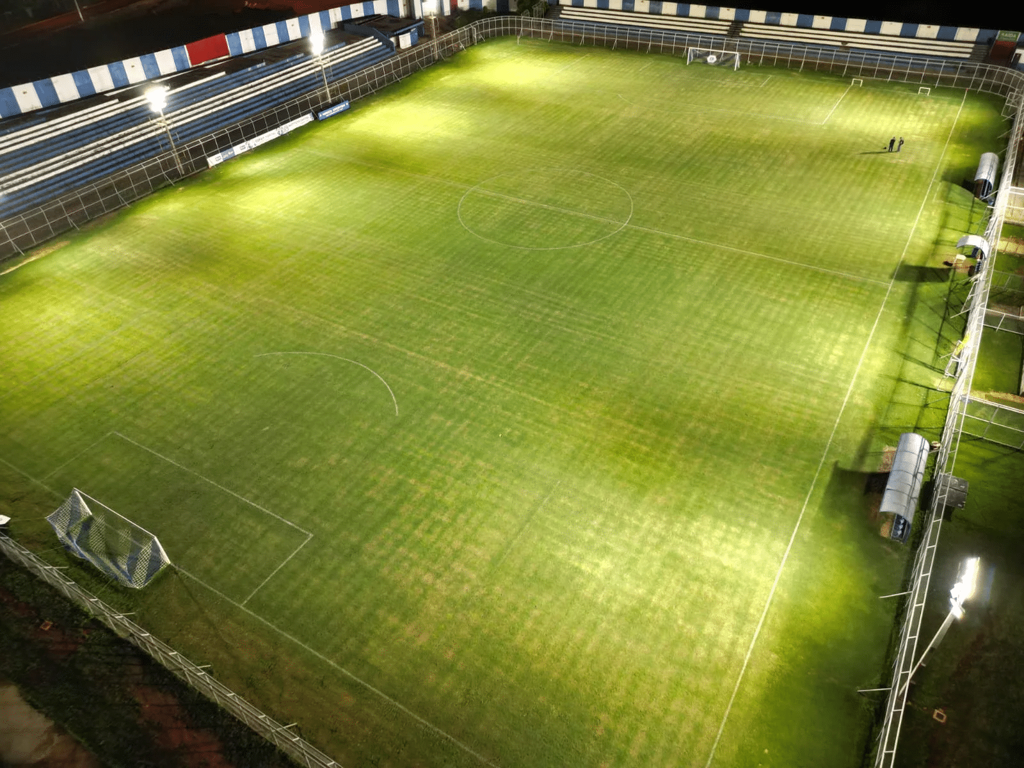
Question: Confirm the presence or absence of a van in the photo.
No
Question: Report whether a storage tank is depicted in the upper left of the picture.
No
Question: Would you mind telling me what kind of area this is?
sports ground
